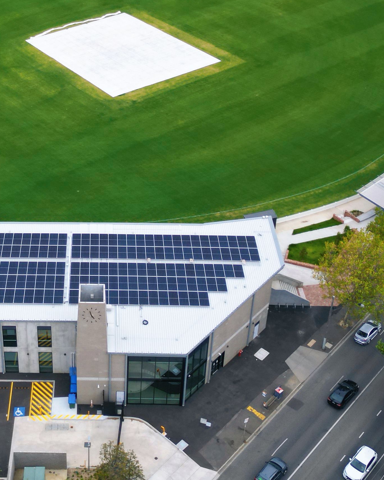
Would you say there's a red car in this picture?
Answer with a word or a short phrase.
No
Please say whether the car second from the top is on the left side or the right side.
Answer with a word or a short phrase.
right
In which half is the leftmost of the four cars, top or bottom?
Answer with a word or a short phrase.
bottom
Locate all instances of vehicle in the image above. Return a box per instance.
[251,451,290,480]
[341,441,380,480]
[326,378,360,412]
[351,318,382,347]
